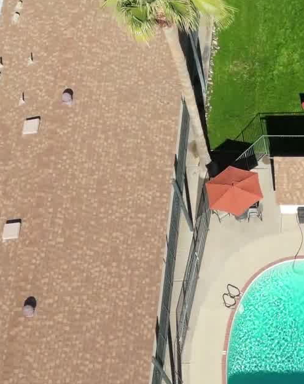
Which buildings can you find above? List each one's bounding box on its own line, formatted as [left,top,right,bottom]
[271,155,304,214]
[0,0,210,384]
